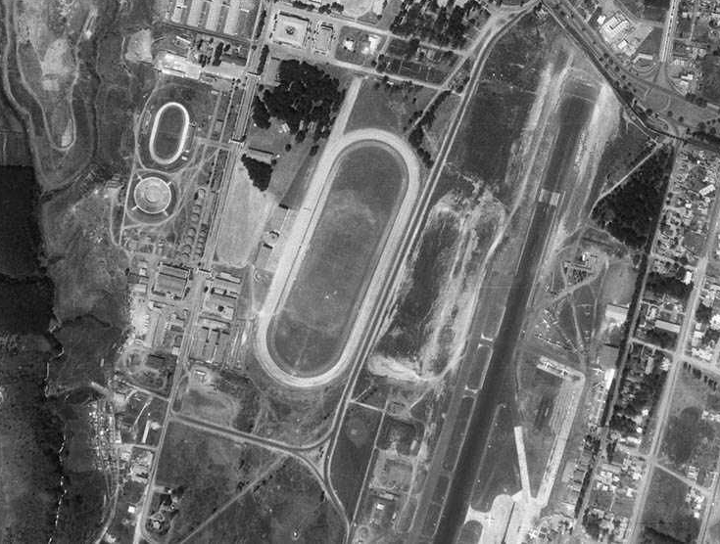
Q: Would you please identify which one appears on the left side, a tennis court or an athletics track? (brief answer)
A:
athletics track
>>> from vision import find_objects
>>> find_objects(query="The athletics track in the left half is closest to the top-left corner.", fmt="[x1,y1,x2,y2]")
[150,102,189,164]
